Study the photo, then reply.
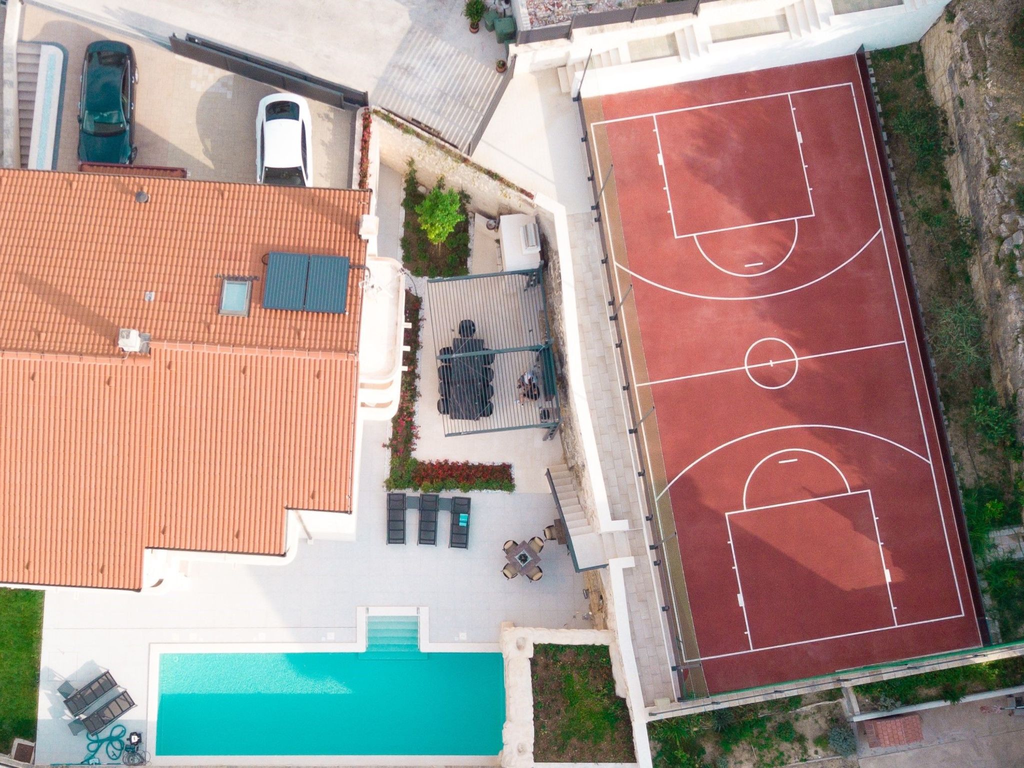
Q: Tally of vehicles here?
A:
2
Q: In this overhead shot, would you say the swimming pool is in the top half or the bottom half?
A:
bottom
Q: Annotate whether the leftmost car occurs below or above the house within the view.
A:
above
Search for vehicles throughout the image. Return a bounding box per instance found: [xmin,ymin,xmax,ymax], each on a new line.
[71,37,132,164]
[250,93,313,185]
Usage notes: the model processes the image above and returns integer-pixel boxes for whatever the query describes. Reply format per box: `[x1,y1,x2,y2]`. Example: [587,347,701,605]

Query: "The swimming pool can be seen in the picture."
[146,607,504,765]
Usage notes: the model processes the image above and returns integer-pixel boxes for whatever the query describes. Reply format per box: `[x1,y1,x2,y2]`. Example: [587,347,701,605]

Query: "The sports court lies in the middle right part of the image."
[583,54,981,700]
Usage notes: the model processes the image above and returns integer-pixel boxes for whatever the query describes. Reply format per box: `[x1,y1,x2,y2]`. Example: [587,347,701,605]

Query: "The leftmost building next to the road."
[0,162,413,601]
